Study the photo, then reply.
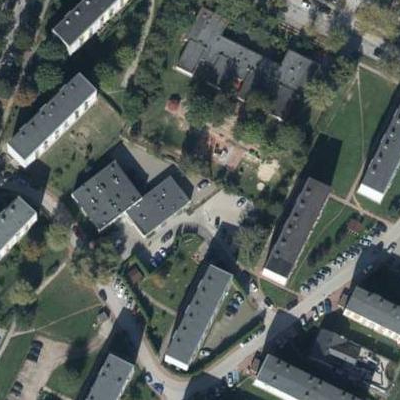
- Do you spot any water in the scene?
No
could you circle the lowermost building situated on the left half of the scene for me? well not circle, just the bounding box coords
[85,353,136,400]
